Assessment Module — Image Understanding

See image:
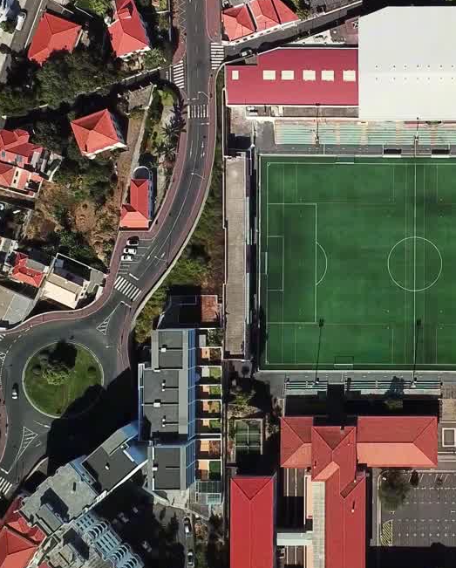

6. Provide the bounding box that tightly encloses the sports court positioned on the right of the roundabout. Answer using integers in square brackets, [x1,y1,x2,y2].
[233,418,262,456]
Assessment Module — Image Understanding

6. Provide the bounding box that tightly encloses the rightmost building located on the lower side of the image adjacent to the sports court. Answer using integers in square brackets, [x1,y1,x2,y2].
[280,414,437,568]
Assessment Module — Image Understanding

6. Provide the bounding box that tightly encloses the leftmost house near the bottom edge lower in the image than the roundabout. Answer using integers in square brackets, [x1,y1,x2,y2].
[0,495,50,568]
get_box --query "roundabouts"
[0,316,127,443]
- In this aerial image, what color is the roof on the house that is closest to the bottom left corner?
red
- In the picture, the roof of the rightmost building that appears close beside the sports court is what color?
red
